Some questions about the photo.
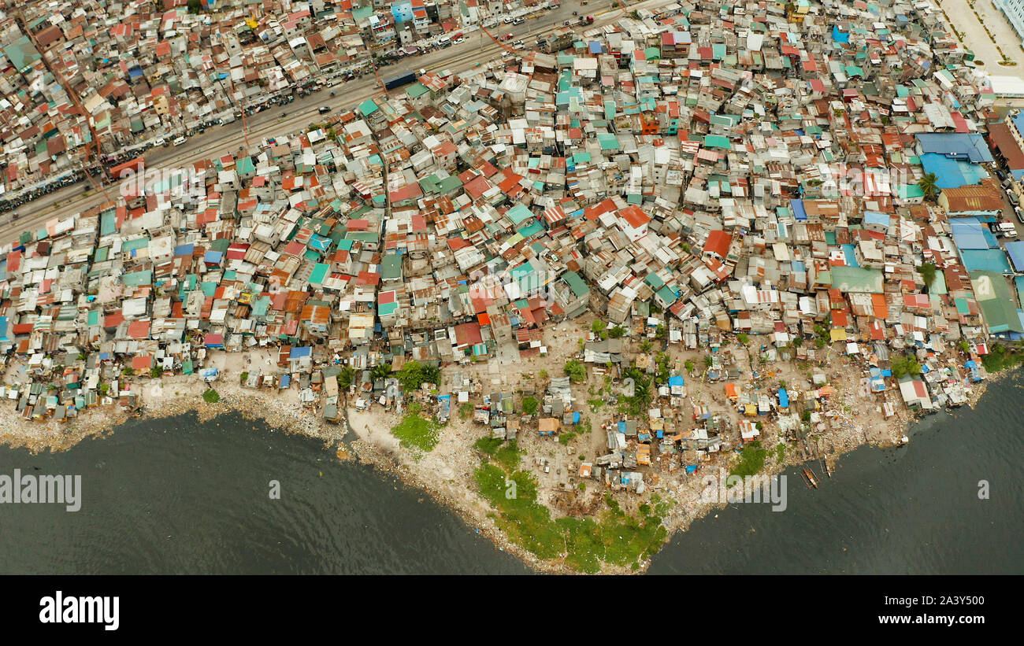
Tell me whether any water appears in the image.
Yes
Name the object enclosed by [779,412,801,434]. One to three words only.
shed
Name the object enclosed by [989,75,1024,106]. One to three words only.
building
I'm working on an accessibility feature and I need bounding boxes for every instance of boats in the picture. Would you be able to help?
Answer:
[799,468,821,488]
[818,454,837,476]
